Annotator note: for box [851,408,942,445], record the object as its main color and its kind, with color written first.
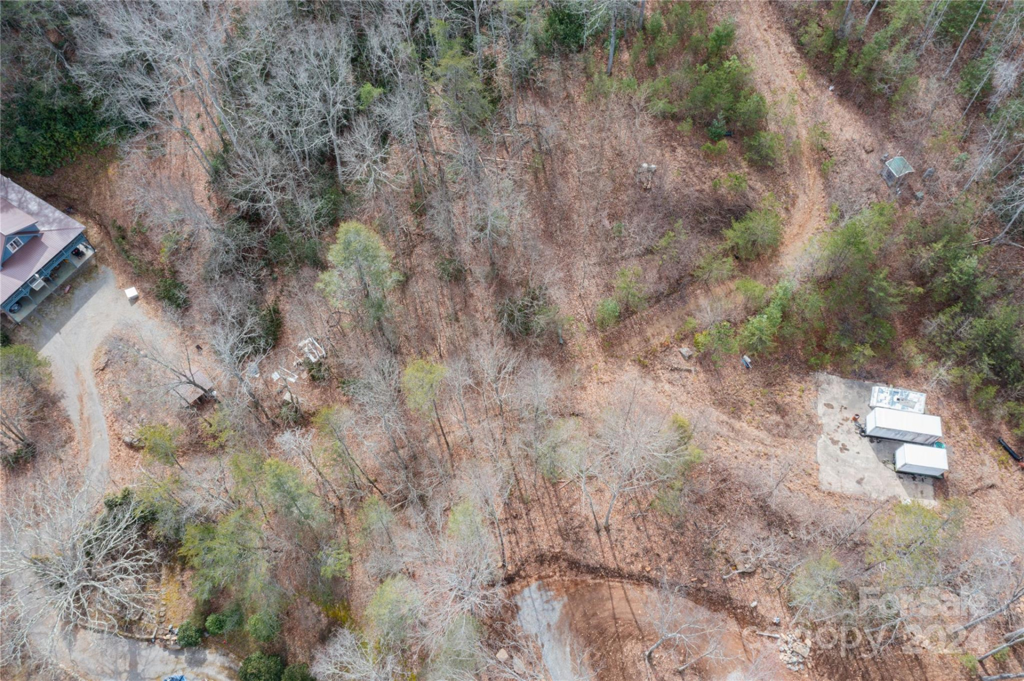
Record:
white trailer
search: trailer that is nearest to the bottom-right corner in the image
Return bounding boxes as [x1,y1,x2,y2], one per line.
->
[881,444,949,478]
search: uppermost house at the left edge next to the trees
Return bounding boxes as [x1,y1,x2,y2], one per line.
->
[0,184,101,331]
